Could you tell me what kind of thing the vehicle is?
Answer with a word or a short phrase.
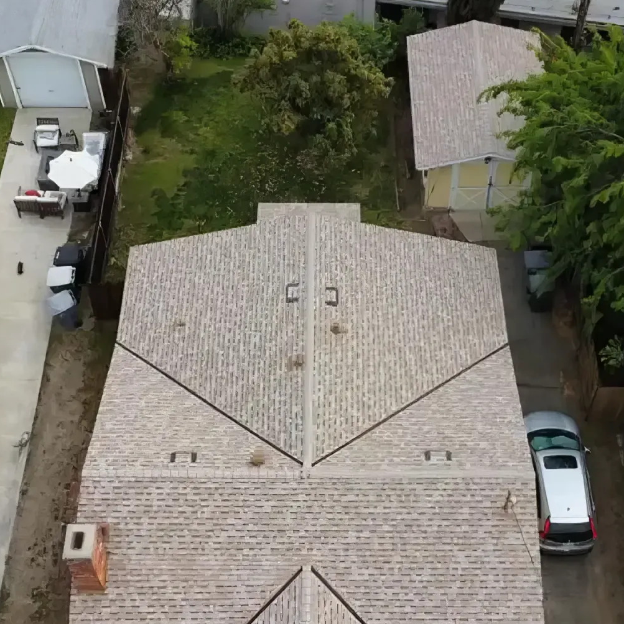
car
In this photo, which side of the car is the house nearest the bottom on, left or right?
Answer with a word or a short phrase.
left of it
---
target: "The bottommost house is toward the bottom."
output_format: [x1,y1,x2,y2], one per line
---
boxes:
[61,203,544,624]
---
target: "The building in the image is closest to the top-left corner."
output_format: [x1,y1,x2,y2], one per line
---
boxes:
[0,0,125,107]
